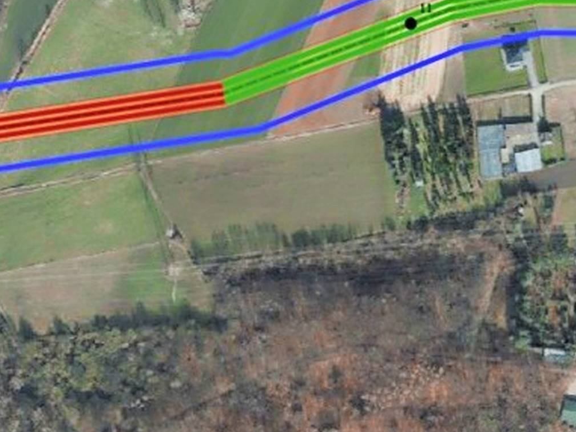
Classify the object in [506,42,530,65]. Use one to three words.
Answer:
house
